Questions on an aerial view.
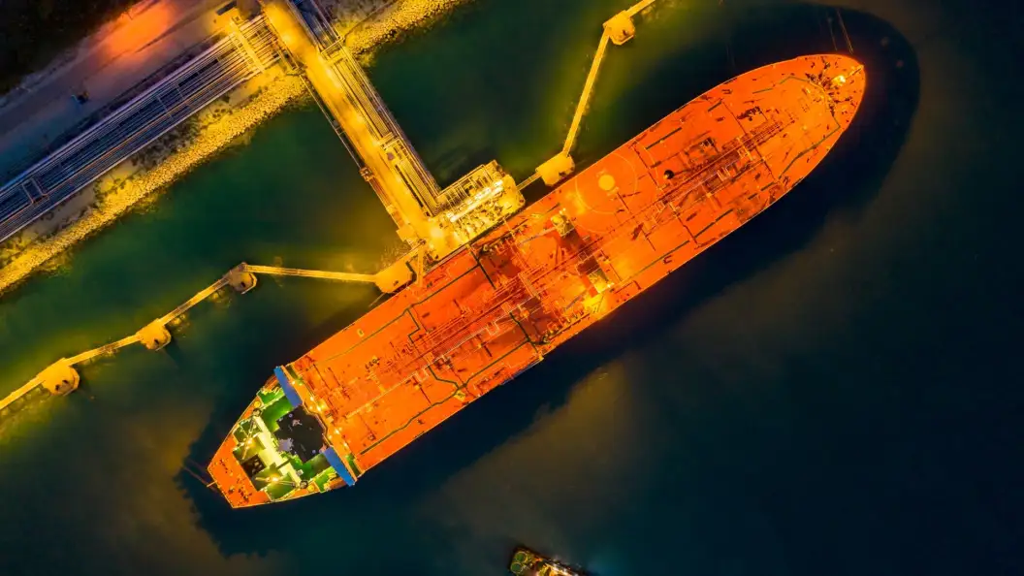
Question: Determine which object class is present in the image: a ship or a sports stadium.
ship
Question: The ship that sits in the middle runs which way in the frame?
diagonally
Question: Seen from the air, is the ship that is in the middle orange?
Yes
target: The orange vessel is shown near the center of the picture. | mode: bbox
[207,54,866,508]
